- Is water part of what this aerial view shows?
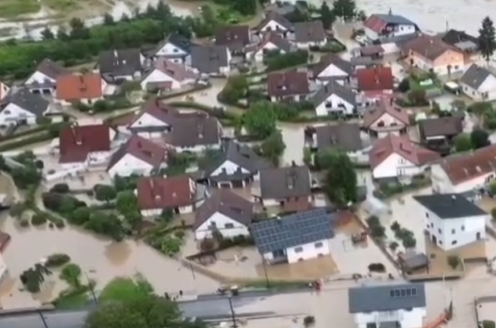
Yes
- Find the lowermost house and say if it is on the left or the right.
right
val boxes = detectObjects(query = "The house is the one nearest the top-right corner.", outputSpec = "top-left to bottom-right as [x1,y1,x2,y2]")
[443,24,478,50]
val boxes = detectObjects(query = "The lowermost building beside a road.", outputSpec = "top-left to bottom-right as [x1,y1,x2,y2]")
[348,279,427,328]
